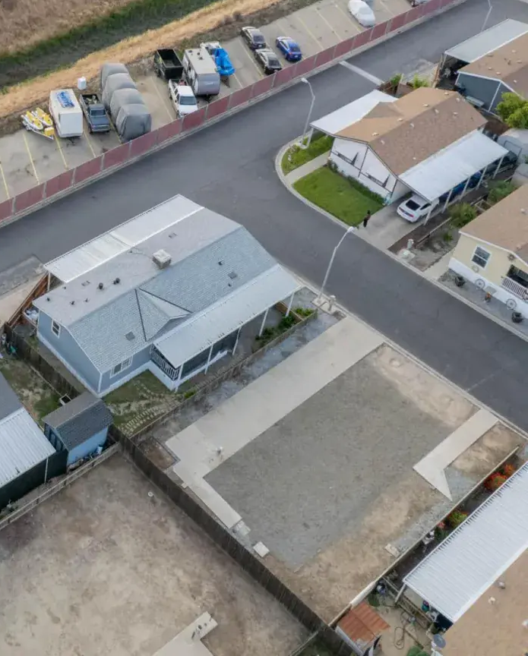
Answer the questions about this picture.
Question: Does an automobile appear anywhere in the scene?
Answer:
Yes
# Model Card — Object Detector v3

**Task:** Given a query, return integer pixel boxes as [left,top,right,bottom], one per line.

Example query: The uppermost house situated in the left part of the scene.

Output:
[28,193,304,396]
